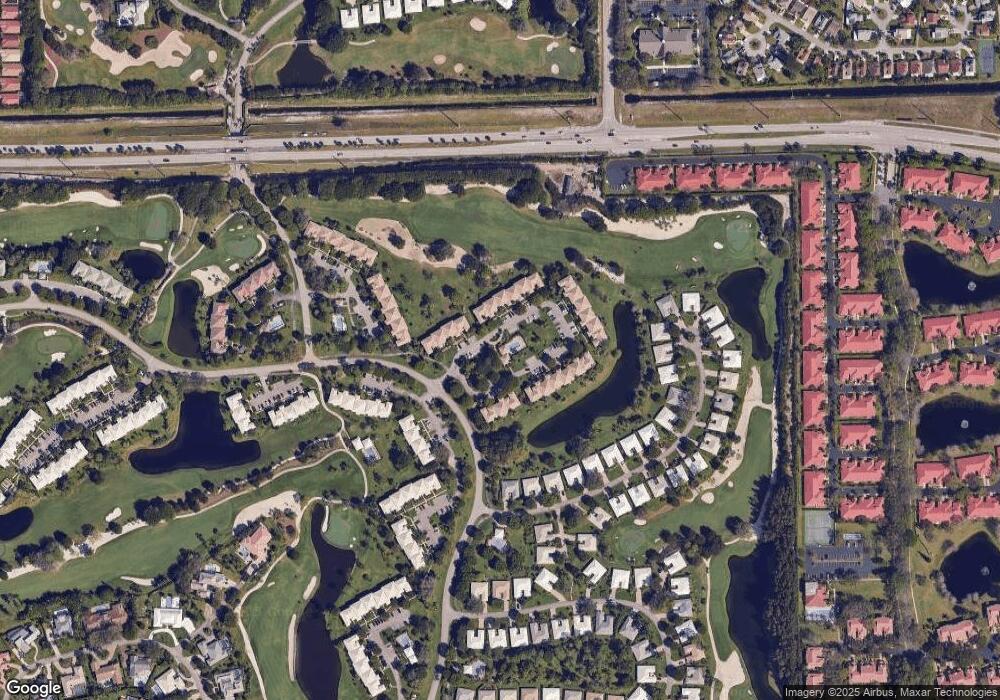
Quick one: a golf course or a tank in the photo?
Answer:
golf course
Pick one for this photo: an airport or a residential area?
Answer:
residential area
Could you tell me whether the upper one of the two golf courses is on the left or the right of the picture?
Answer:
left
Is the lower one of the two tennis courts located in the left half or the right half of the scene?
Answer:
right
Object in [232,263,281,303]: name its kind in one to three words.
building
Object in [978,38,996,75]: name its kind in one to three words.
tennis court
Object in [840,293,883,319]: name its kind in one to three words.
house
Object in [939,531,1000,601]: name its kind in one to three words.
pond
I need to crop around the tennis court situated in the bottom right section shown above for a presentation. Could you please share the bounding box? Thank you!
[804,511,835,545]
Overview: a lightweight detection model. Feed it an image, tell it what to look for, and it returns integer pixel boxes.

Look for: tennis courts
[804,511,835,545]
[978,38,996,75]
